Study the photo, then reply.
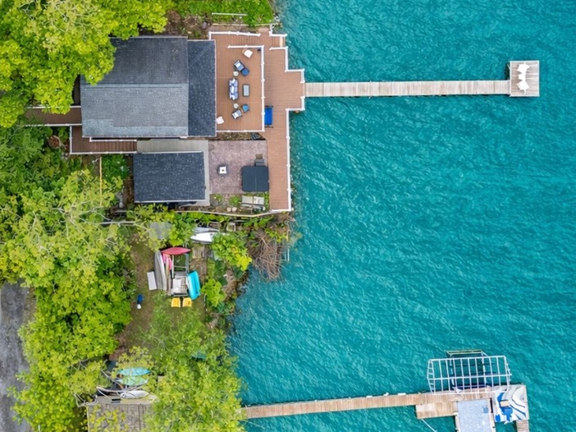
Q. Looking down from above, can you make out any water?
Yes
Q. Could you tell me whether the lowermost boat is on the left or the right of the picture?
right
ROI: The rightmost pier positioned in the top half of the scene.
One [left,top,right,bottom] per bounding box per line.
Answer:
[508,60,540,96]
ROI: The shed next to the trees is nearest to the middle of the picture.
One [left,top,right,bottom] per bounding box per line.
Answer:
[135,152,205,202]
